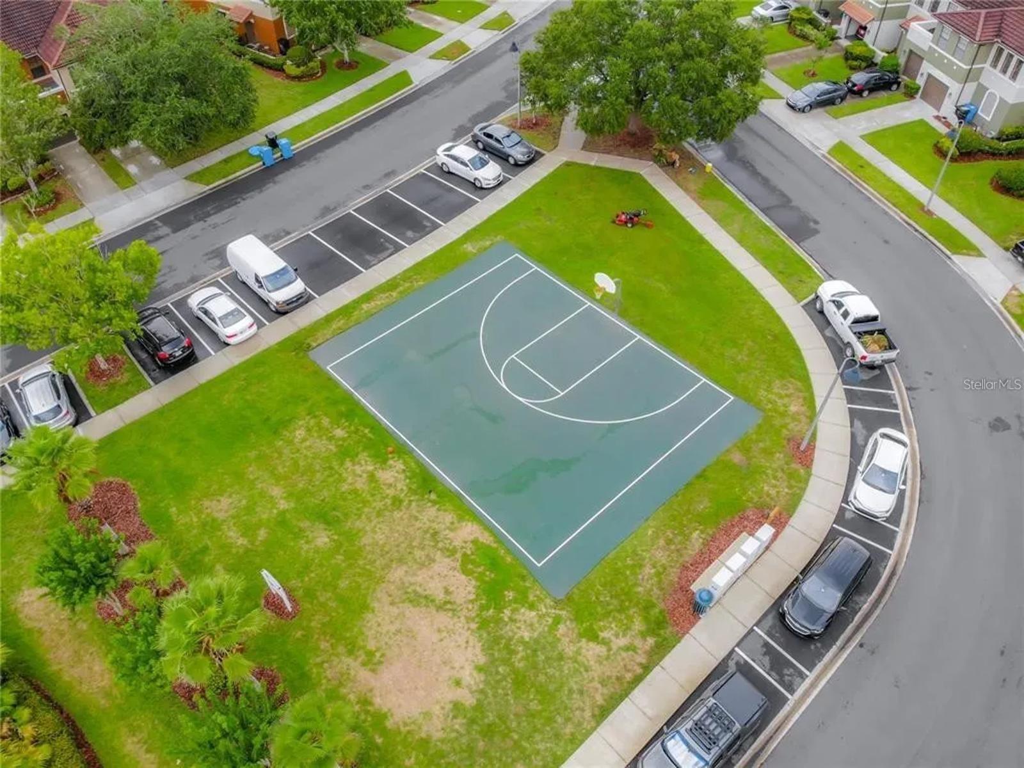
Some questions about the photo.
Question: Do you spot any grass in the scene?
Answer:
Yes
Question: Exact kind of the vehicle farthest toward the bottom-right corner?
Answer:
car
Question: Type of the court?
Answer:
basketball court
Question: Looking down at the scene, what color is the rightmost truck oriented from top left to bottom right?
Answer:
white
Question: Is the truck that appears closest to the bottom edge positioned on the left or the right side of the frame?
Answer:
right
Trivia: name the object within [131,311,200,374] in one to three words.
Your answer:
car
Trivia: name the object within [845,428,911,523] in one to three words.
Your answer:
car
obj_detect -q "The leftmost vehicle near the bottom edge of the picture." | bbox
[633,664,774,768]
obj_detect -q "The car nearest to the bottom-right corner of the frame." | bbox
[781,538,875,645]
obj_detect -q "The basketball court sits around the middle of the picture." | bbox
[308,241,763,598]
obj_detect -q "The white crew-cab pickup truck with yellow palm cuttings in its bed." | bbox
[814,283,908,372]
